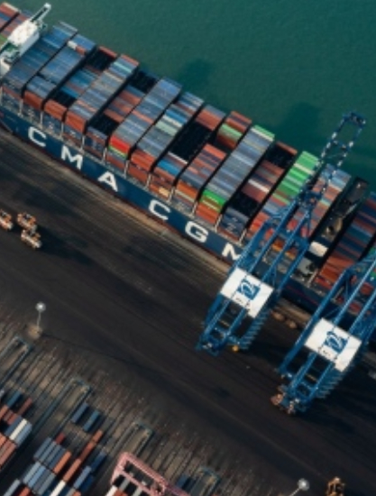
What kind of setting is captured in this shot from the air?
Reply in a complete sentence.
It's a port.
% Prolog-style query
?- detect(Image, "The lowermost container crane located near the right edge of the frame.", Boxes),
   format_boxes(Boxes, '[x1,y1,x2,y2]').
[270,251,376,421]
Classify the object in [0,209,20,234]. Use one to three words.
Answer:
work vehicle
